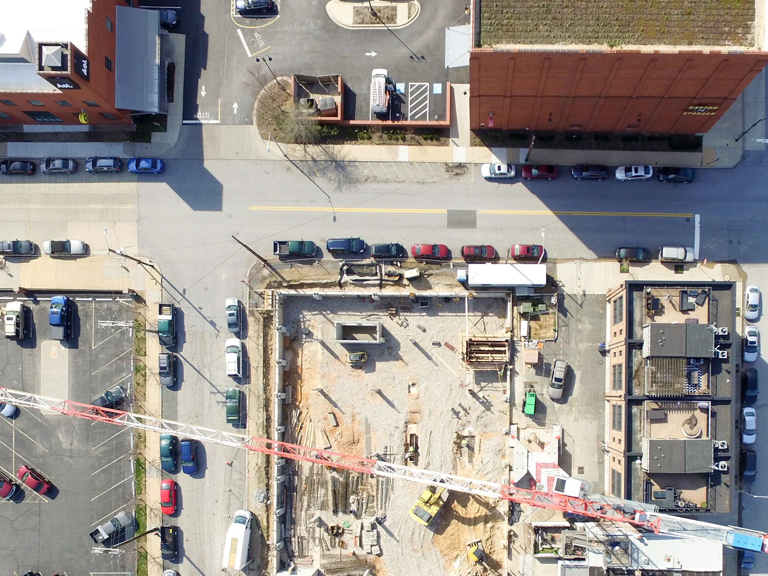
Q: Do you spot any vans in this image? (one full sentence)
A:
Yes, there's a van down there.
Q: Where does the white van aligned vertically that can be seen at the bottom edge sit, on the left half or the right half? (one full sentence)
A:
It is on the left.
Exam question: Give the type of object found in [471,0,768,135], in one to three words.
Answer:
building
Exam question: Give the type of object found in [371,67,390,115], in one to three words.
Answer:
vehicle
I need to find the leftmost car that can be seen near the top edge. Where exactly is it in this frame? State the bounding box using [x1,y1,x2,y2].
[161,8,180,28]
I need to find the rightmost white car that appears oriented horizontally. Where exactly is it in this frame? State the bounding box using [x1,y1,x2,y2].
[657,244,695,262]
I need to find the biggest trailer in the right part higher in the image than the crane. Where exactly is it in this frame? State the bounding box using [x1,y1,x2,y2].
[462,263,555,300]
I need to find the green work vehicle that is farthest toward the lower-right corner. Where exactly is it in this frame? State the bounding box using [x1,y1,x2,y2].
[522,384,539,414]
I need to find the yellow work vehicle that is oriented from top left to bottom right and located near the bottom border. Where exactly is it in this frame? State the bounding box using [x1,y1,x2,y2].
[460,539,491,576]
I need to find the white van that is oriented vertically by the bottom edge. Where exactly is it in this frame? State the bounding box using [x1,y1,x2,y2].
[220,508,252,572]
